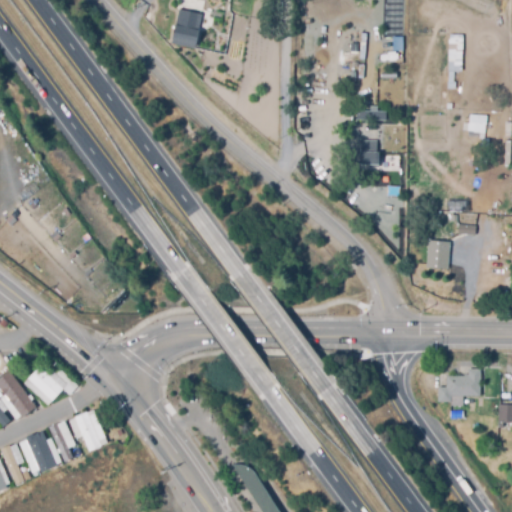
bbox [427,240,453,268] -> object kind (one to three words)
house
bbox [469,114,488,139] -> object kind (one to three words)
barn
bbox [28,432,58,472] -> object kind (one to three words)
house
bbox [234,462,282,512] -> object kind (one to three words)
building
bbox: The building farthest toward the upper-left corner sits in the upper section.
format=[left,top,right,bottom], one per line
[173,8,204,48]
